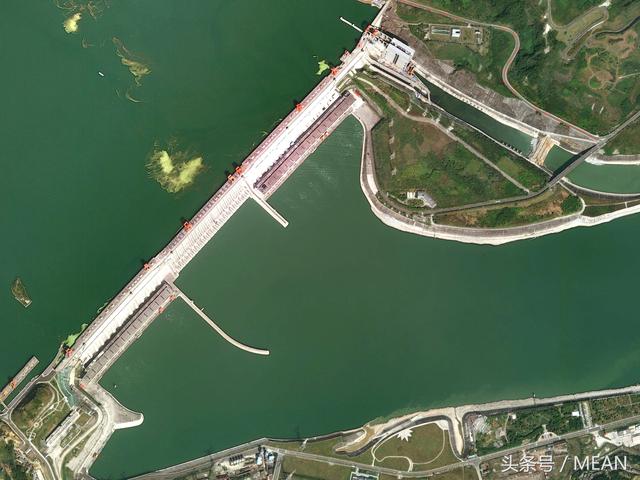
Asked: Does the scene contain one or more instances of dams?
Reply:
Yes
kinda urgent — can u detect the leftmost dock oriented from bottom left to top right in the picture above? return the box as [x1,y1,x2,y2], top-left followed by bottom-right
[0,356,39,402]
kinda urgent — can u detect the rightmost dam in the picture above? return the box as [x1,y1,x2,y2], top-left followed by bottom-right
[529,134,559,165]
